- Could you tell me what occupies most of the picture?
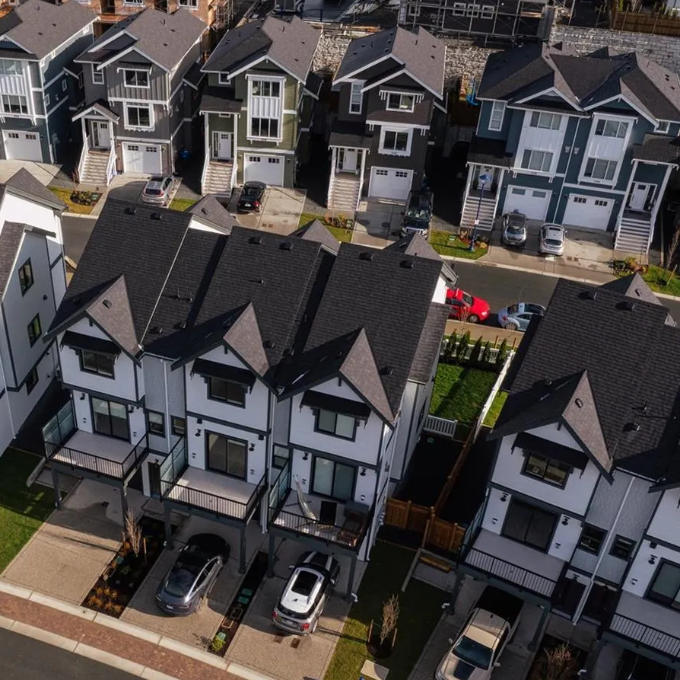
buildings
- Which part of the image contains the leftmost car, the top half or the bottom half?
top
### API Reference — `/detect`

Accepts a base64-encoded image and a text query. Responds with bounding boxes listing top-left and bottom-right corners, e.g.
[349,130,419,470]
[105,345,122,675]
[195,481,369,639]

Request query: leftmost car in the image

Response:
[145,168,180,197]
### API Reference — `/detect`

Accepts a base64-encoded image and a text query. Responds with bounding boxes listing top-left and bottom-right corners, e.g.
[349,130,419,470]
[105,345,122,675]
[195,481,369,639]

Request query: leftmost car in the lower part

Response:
[158,529,231,611]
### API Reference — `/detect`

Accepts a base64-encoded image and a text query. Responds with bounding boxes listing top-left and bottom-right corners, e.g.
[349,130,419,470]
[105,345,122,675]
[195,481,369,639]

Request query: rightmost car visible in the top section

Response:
[540,219,573,250]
